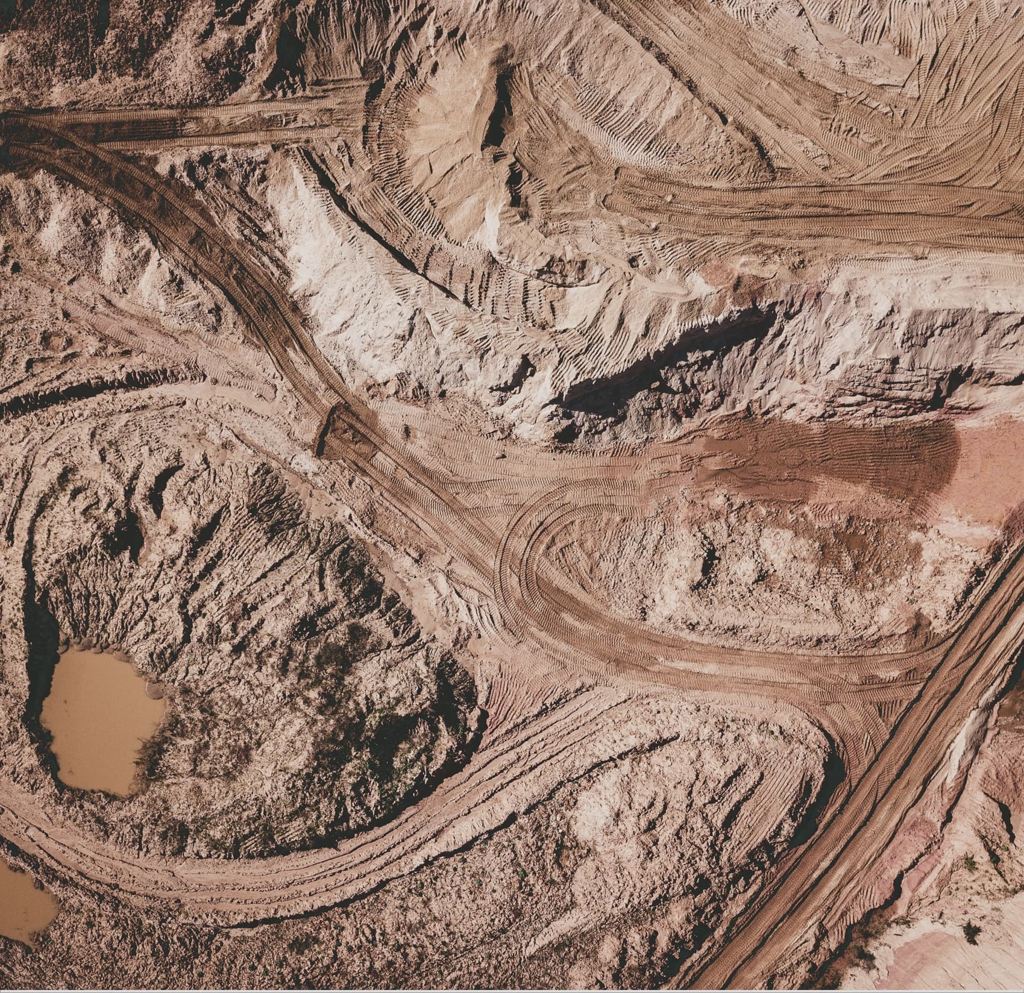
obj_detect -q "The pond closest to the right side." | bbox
[39,638,170,807]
